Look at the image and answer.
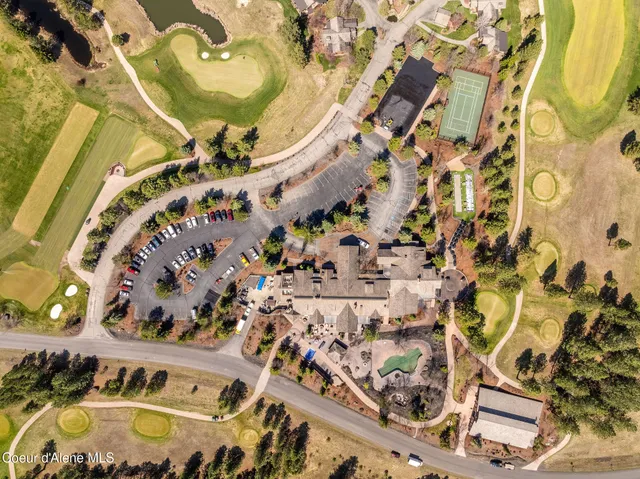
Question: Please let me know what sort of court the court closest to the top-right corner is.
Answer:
tennis court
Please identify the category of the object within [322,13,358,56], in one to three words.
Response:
house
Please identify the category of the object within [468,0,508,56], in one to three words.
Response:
house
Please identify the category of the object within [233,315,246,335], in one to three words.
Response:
vehicle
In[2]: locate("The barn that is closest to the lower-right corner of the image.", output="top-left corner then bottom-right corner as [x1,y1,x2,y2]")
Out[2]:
[469,387,542,451]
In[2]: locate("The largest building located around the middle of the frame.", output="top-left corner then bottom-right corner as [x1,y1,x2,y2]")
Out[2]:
[274,246,442,334]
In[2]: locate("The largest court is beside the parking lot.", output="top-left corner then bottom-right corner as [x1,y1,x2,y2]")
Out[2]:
[438,69,491,144]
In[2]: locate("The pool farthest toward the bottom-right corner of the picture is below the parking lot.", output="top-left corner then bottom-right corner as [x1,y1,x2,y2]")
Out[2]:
[376,346,423,378]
